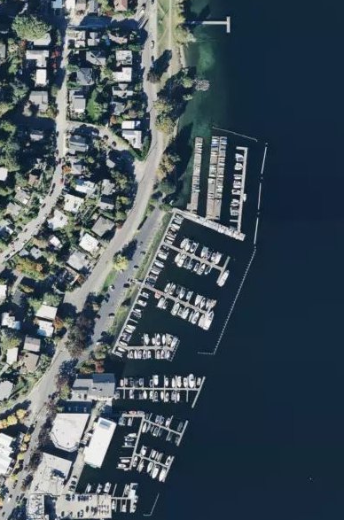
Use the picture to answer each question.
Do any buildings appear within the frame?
Yes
